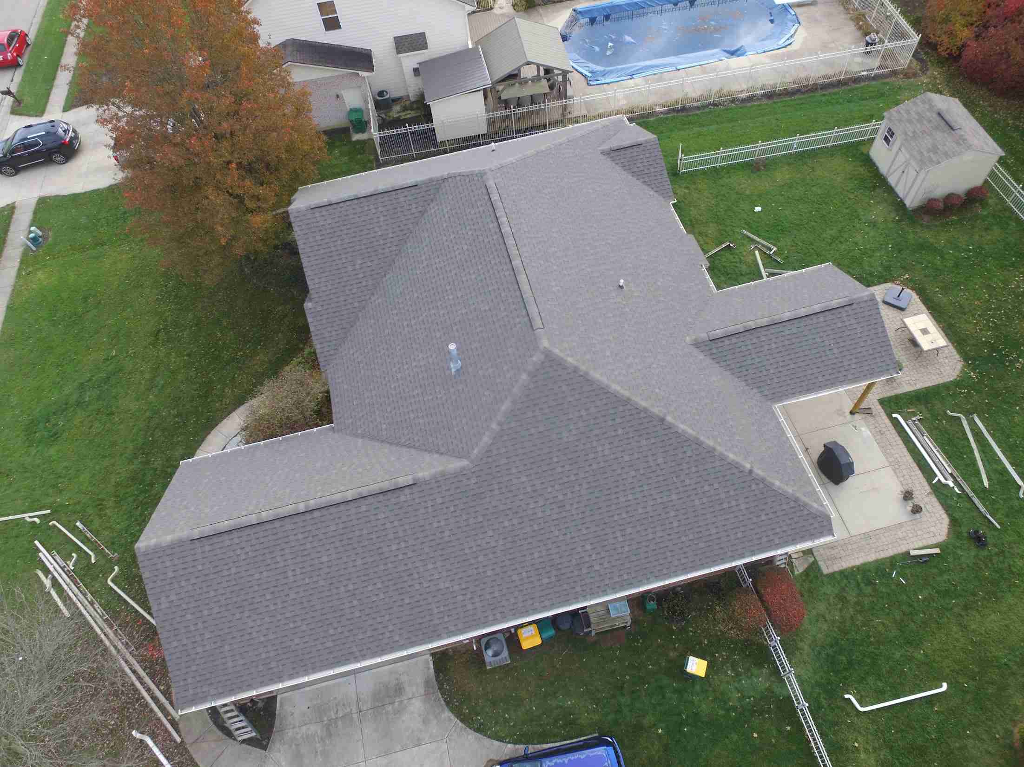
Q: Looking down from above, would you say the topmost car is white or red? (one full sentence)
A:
In this view, the topmost car is red.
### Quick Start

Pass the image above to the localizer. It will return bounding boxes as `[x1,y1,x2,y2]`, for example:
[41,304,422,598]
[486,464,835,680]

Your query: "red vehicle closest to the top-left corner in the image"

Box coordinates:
[0,27,28,72]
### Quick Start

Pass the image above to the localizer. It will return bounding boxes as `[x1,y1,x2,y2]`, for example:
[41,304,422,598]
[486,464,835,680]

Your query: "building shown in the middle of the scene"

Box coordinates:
[135,114,901,717]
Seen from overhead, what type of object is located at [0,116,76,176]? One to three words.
car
